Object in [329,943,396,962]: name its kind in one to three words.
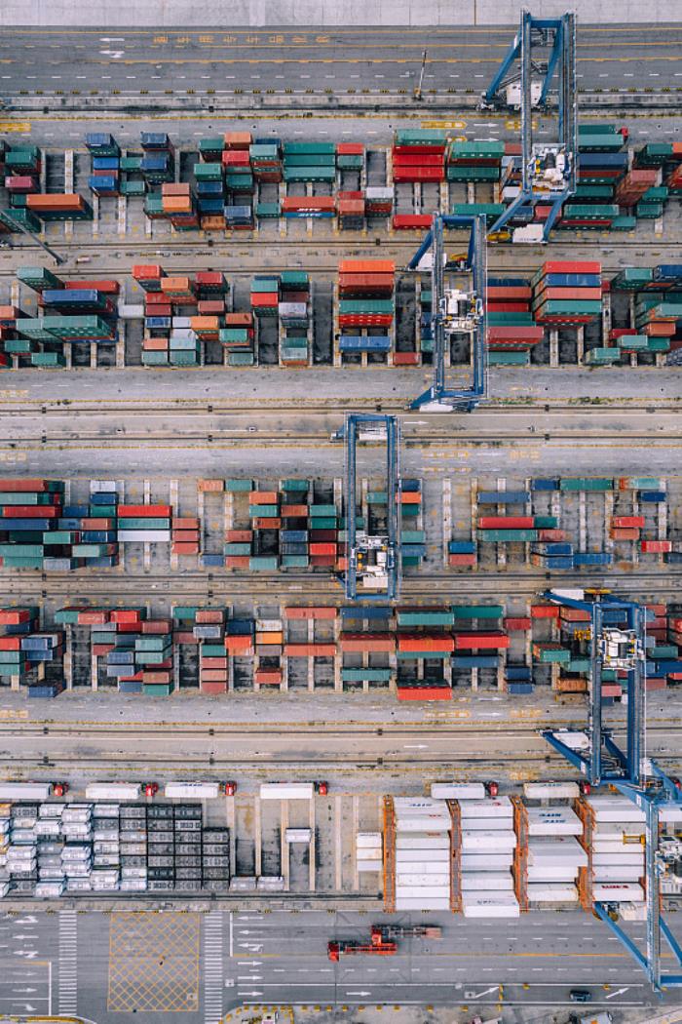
vehicle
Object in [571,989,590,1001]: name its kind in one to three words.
vehicle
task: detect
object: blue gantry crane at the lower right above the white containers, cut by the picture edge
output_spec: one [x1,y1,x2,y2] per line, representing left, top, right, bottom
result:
[578,758,682,987]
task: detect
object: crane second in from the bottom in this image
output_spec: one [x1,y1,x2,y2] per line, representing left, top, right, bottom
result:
[530,579,644,786]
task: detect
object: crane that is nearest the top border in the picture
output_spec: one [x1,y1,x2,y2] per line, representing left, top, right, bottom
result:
[473,14,576,253]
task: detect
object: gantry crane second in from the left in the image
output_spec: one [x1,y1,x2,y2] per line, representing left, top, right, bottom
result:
[398,211,487,413]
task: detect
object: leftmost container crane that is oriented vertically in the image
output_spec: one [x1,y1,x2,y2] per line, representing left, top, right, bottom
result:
[326,413,408,600]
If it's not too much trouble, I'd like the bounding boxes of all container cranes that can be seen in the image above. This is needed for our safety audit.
[530,579,644,786]
[326,413,408,600]
[473,14,576,253]
[398,211,487,413]
[578,758,682,987]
